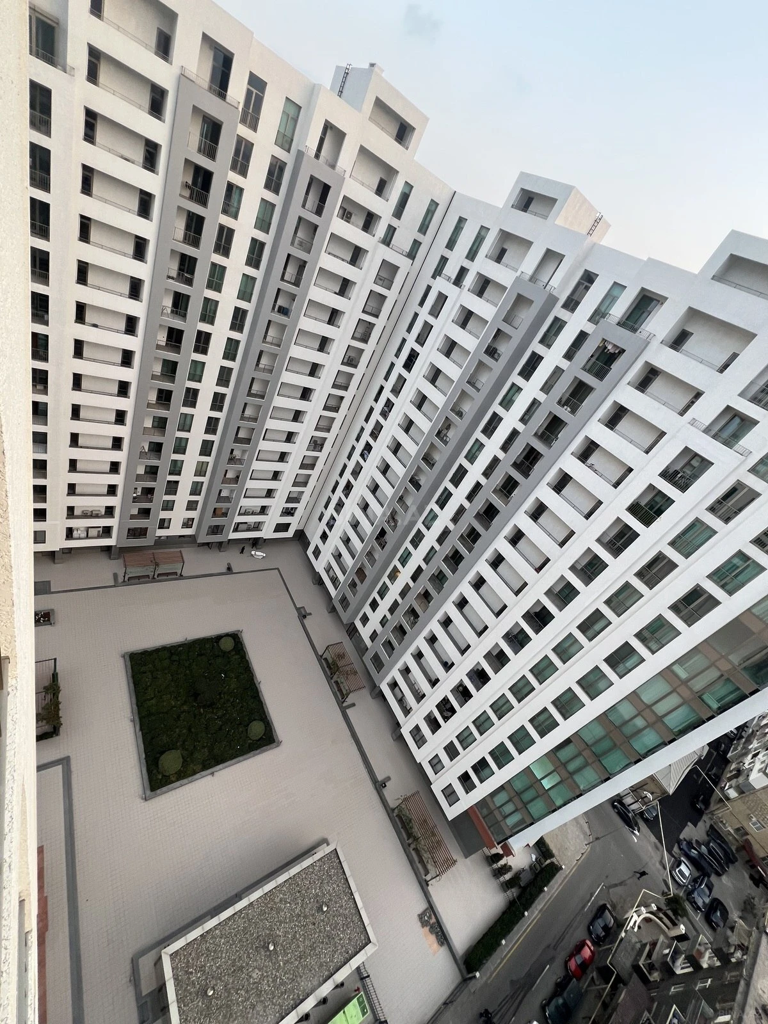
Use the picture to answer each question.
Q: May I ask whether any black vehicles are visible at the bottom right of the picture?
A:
Yes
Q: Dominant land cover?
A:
buildings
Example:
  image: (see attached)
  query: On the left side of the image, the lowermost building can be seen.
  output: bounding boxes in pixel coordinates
[159,840,377,1024]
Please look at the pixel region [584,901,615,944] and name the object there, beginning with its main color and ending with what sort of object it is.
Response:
black car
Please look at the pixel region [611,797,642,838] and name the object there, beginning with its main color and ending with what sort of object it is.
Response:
black car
